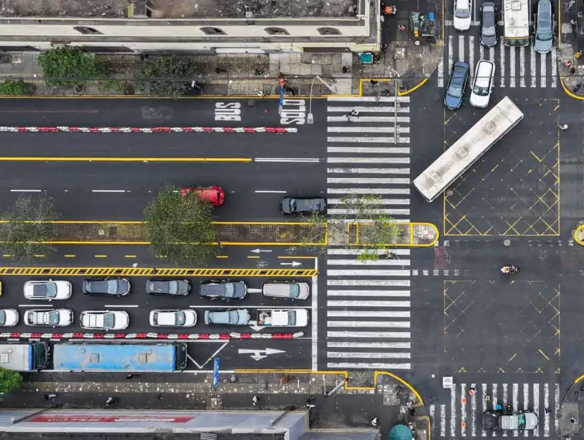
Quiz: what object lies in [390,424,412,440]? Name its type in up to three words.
umbrella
